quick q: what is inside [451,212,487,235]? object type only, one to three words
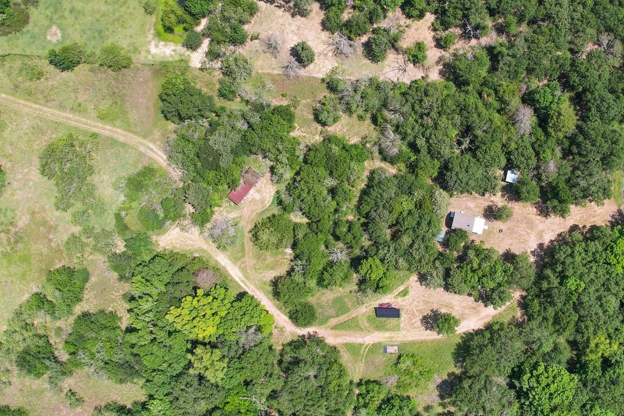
building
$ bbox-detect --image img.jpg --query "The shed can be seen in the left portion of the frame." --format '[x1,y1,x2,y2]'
[227,169,261,204]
